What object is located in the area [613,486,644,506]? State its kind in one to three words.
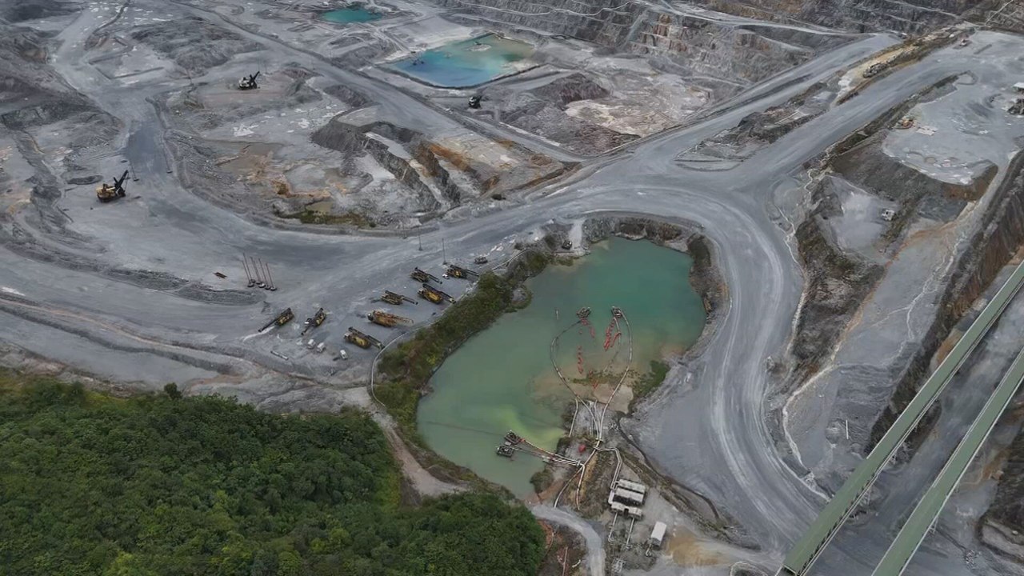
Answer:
shed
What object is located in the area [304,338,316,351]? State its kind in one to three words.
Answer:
vehicle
